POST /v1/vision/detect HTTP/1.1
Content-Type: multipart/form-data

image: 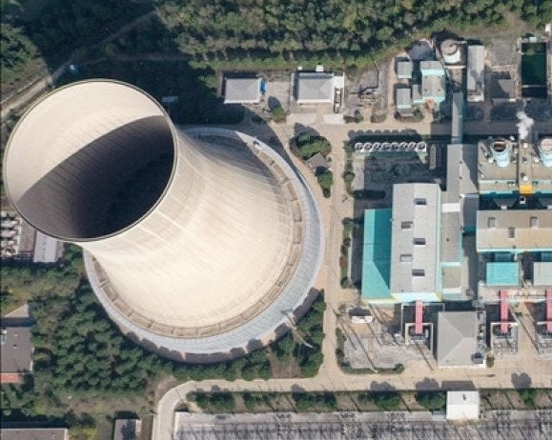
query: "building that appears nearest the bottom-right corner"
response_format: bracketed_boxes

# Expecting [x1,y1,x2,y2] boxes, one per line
[446,391,482,421]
